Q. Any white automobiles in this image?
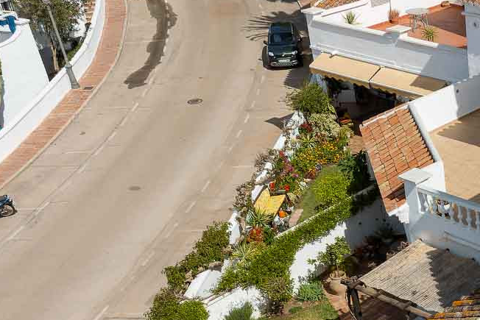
No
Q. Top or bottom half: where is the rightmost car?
top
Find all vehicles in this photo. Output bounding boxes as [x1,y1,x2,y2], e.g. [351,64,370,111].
[0,192,17,216]
[257,8,300,62]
